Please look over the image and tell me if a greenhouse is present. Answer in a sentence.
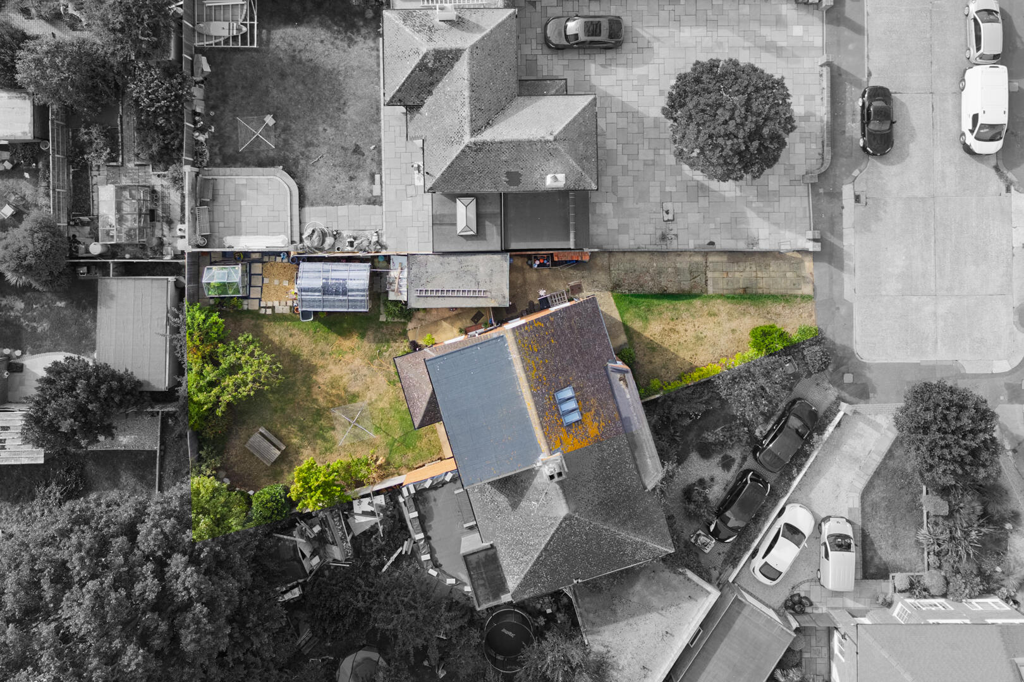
Yes, you can see a greenhouse in this photo.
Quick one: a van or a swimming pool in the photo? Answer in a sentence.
It is a van that can be seen here.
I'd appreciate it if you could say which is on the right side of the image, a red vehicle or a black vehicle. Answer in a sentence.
What appears on the right side of the image is a black vehicle.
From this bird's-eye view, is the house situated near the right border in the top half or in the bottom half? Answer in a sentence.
You can find the house situated near the right border in the bottom half.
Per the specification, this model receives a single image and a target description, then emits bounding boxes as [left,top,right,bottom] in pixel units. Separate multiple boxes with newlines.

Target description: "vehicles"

[707,468,771,539]
[753,400,816,474]
[543,10,625,54]
[955,60,1009,156]
[853,84,895,159]
[749,505,810,582]
[954,0,1002,68]
[817,516,860,596]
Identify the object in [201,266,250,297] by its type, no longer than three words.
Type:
greenhouse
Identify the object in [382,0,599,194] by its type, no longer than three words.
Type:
house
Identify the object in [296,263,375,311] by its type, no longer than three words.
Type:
greenhouse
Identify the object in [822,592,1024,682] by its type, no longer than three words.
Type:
house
